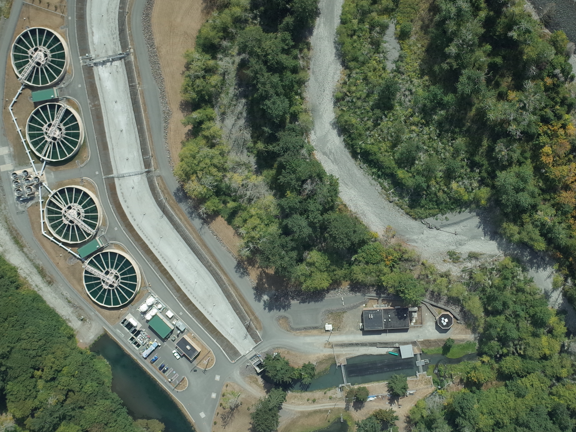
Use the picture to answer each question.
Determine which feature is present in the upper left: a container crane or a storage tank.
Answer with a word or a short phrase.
storage tank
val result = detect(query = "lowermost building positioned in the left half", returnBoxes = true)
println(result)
[175,337,200,360]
